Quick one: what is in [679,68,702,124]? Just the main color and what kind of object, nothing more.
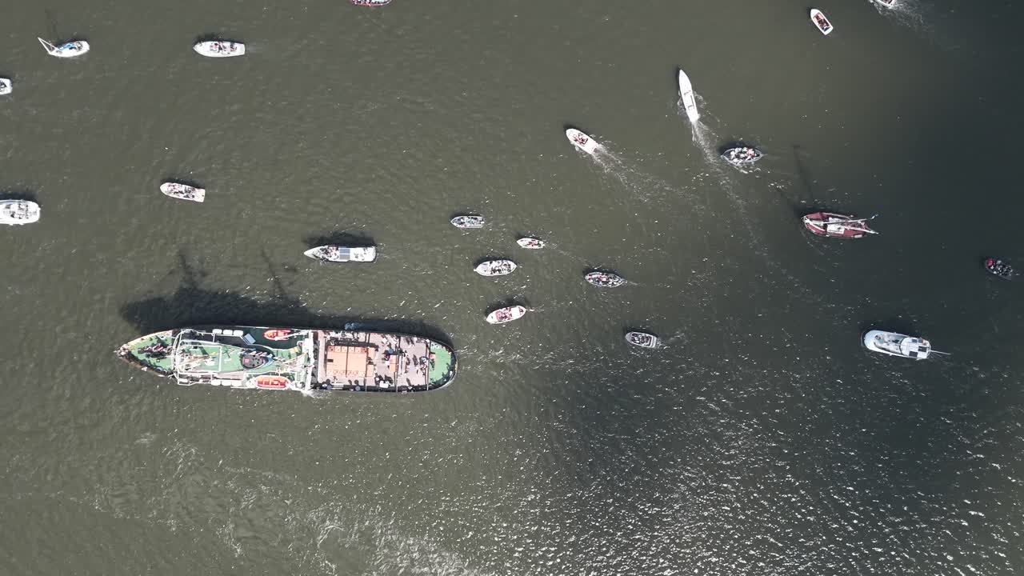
white boat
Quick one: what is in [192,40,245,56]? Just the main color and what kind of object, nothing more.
white boat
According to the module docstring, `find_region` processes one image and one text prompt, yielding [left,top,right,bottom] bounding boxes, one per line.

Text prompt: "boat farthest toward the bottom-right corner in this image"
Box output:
[865,332,951,361]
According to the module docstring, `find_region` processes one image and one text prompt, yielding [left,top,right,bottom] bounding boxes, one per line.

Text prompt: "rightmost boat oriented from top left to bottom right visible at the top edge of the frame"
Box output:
[811,7,835,38]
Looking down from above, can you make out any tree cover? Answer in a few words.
No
